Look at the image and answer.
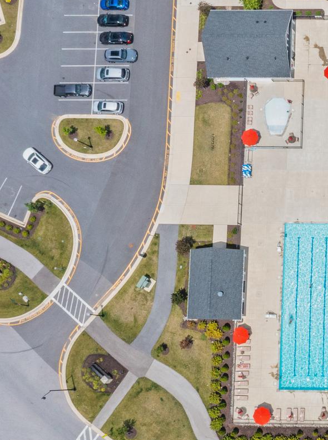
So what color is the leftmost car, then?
white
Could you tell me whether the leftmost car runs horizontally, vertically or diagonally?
diagonally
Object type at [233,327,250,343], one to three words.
umbrella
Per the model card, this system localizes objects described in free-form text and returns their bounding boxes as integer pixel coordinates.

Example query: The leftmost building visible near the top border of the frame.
[202,10,296,81]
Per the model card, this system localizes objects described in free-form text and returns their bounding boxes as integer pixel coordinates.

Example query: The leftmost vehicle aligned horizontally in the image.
[52,82,95,98]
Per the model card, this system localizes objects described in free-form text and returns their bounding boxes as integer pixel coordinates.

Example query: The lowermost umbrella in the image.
[254,405,271,423]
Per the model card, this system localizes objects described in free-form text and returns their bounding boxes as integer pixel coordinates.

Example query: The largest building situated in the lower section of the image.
[187,248,248,321]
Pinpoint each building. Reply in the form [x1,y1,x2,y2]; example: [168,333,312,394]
[202,10,296,81]
[187,248,248,321]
